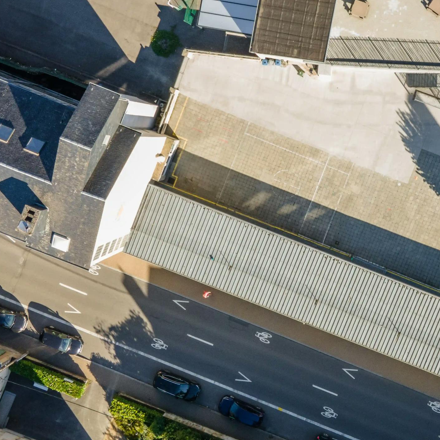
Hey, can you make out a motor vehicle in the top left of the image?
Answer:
No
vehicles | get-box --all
[213,392,269,431]
[0,303,31,334]
[149,362,205,400]
[34,322,88,360]
[311,430,342,440]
